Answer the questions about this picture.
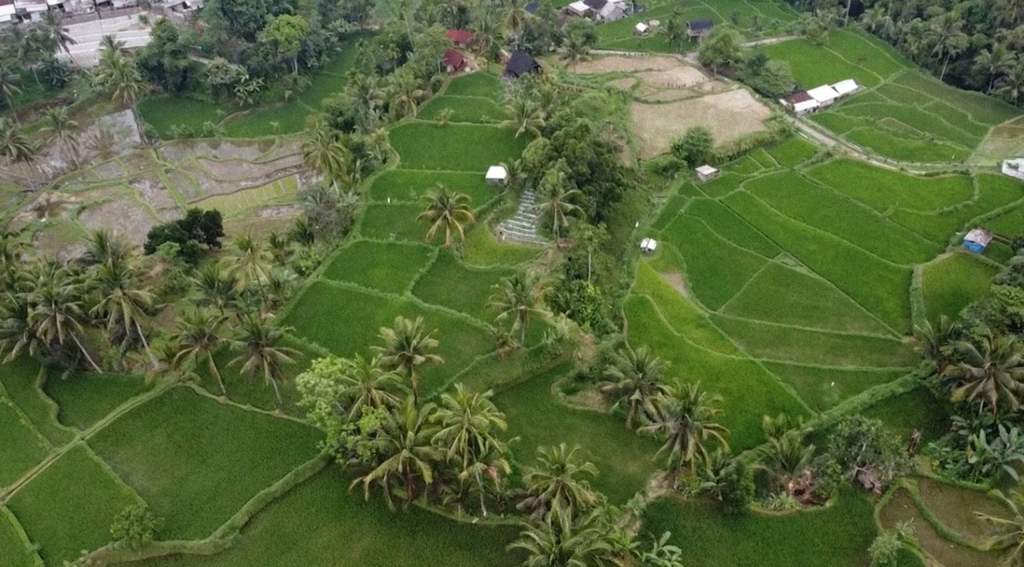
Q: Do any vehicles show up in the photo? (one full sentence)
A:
No, the frame has no vehicle in it.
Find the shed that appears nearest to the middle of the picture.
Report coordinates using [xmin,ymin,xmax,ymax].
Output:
[487,171,507,192]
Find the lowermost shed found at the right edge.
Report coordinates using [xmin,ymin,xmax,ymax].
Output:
[965,230,995,259]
